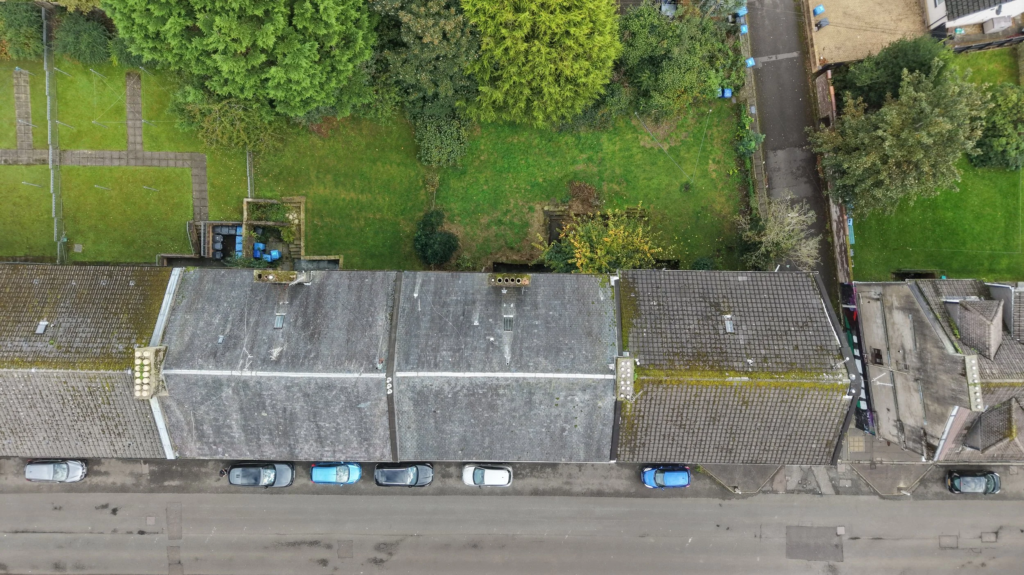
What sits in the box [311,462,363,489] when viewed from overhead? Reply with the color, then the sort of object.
blue car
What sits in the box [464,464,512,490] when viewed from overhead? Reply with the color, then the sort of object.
white car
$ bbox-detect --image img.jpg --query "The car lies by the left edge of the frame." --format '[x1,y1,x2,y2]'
[24,459,90,487]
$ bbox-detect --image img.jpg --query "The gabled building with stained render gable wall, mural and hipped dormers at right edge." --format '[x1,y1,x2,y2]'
[840,276,1024,461]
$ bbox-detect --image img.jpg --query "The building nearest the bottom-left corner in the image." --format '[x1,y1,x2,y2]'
[0,263,184,460]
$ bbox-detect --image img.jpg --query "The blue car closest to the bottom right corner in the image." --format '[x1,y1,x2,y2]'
[641,465,690,492]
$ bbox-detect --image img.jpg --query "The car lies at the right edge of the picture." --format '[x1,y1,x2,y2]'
[943,468,997,498]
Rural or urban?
urban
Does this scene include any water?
No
